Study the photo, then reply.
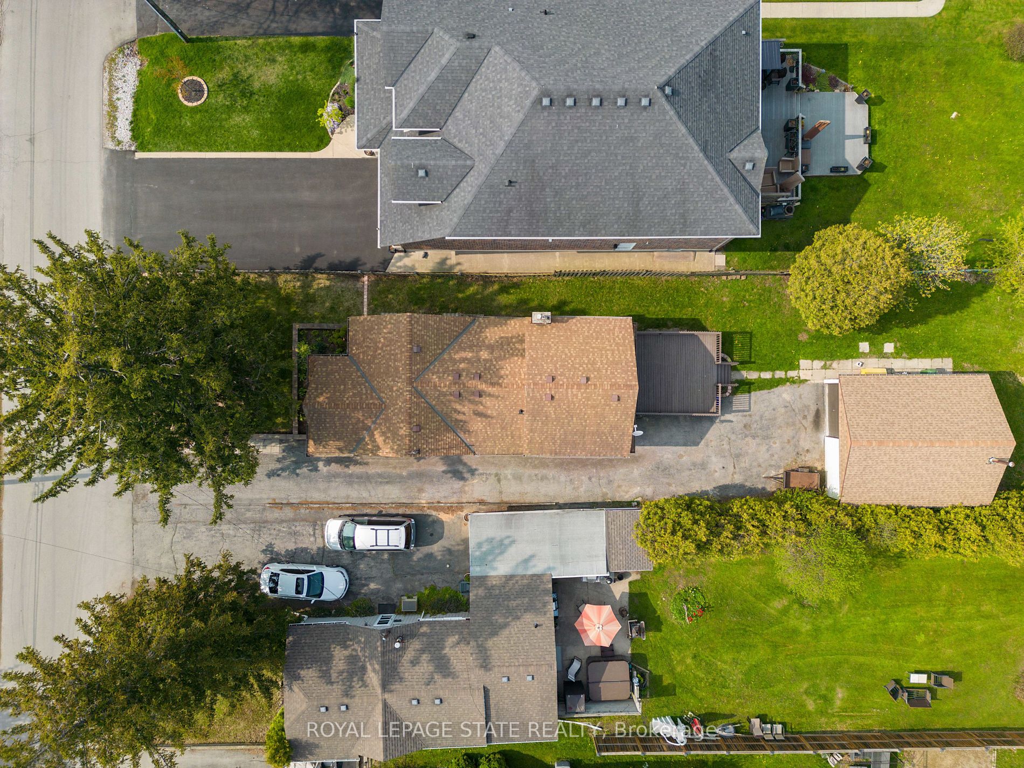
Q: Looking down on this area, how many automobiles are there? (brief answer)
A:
two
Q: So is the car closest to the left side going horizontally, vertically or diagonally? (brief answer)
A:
horizontally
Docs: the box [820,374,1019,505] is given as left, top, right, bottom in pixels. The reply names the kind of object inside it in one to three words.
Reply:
building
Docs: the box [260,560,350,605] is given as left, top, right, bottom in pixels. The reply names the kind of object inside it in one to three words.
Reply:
car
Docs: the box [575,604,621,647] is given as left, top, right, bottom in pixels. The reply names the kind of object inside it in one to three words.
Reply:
umbrella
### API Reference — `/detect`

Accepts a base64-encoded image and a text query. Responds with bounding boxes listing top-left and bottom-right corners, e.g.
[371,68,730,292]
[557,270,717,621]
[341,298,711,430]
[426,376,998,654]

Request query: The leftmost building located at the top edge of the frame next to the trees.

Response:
[353,0,770,256]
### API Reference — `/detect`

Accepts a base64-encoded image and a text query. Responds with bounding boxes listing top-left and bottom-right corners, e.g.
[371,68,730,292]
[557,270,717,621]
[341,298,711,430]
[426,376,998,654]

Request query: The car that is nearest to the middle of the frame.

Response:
[327,511,419,557]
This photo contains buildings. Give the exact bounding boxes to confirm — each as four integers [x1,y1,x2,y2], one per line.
[598,506,653,572]
[820,374,1019,505]
[283,574,558,768]
[300,312,644,459]
[353,0,770,256]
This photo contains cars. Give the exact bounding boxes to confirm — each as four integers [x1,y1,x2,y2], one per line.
[327,511,419,557]
[260,560,350,605]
